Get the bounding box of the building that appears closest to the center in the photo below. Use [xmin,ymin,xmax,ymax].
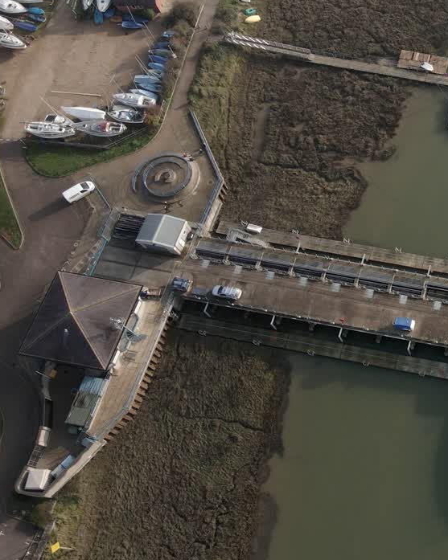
[136,213,192,253]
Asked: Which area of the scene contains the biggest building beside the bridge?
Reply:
left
